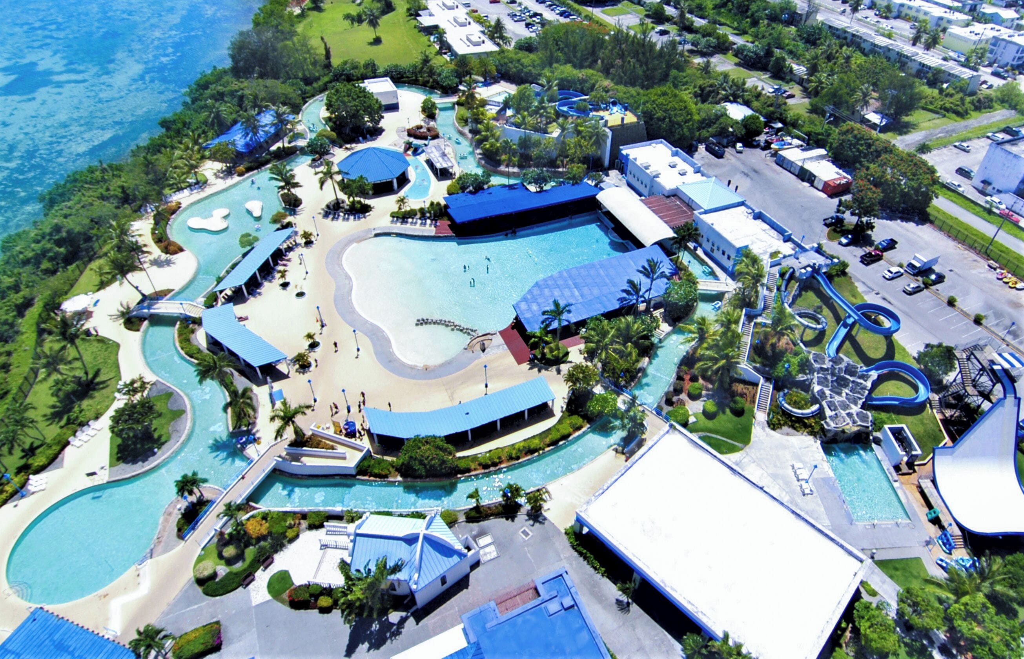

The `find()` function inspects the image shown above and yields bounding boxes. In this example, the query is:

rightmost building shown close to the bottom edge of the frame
[562,428,871,659]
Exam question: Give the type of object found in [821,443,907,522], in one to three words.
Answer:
swimming pool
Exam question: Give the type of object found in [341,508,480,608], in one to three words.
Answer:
house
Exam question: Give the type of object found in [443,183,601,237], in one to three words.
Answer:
building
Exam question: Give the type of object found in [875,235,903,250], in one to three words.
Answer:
vehicle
